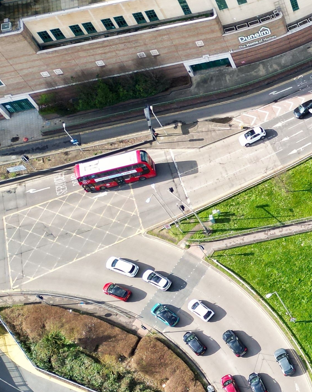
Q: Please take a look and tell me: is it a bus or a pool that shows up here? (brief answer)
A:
bus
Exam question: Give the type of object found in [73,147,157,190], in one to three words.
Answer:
bus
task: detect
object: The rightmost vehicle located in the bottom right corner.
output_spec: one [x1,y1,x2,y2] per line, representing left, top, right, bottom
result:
[275,350,296,378]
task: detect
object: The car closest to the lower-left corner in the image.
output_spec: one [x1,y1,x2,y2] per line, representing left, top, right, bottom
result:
[103,284,131,303]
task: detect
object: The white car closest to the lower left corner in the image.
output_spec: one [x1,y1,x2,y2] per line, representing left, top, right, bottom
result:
[106,258,139,278]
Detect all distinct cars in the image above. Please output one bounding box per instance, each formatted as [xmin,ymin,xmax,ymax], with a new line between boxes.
[151,305,180,327]
[221,377,241,392]
[106,258,139,278]
[246,372,269,392]
[275,350,296,378]
[239,125,267,147]
[293,98,312,120]
[222,331,249,359]
[184,333,208,357]
[103,284,131,303]
[142,270,173,292]
[187,300,216,324]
